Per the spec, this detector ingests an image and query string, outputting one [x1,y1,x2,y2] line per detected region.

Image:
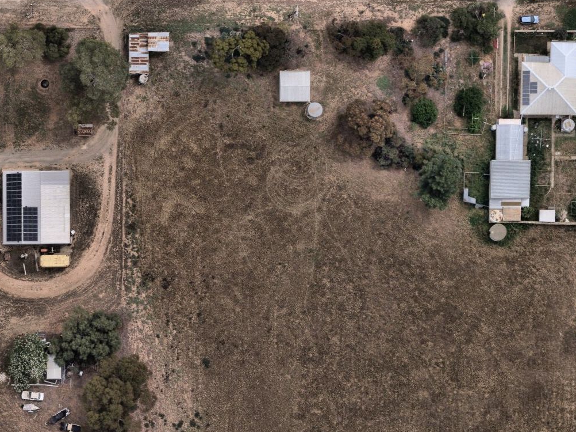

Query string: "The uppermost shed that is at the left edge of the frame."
[1,171,69,245]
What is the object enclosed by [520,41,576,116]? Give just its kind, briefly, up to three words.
house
